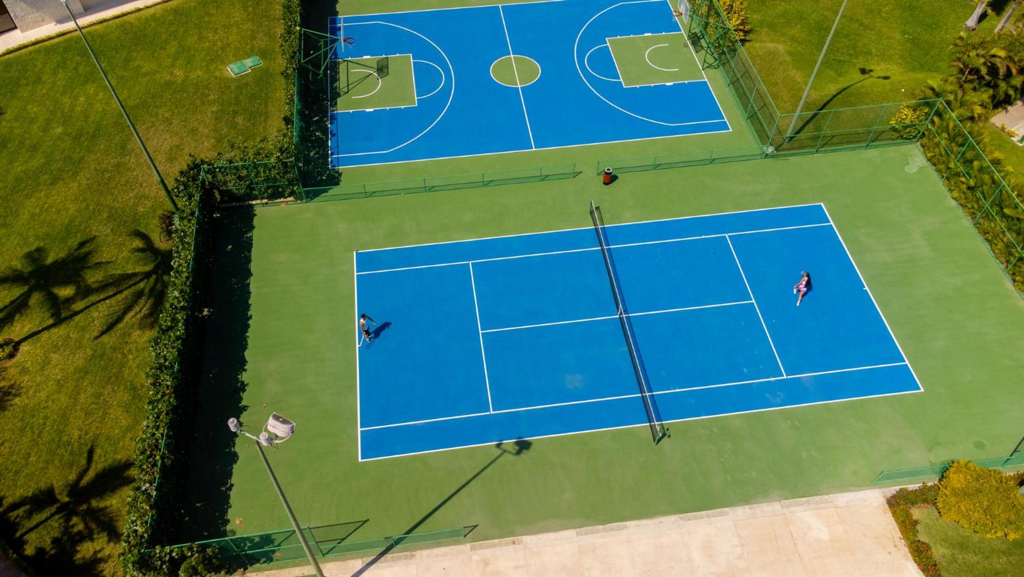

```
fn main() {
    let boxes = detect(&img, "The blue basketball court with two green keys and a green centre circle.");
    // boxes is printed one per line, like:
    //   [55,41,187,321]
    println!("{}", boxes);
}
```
[302,0,763,200]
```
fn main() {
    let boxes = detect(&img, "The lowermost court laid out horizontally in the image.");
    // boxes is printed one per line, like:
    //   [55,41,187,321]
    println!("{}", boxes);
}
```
[174,144,1024,570]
